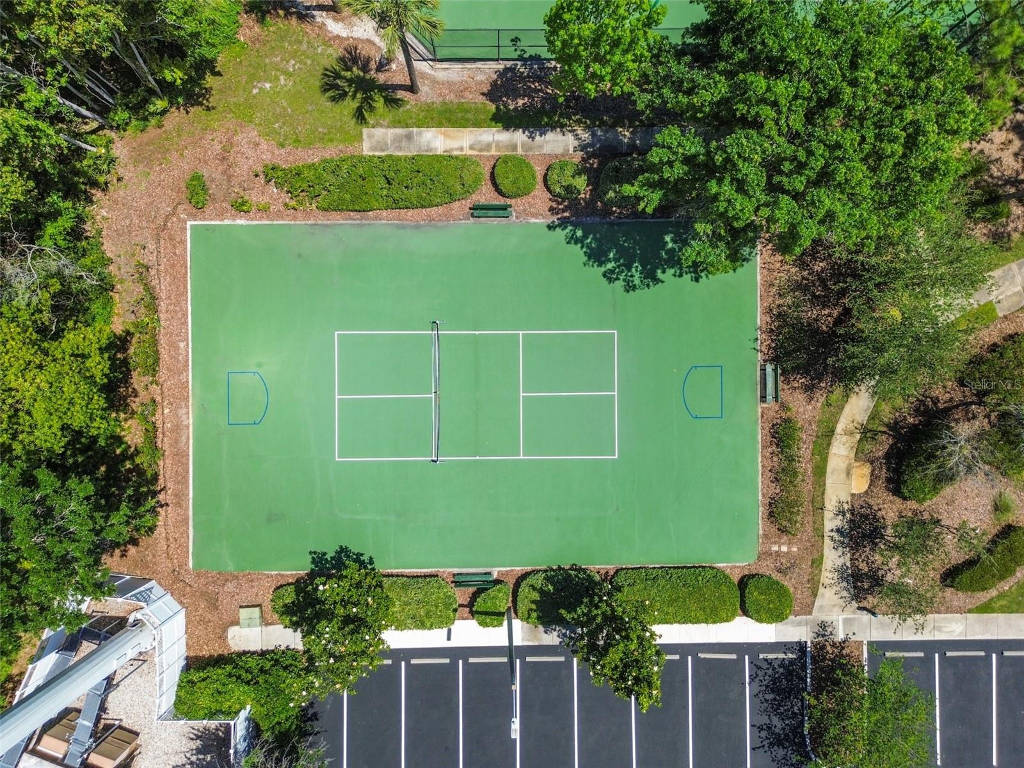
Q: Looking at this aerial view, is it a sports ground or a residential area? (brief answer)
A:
sports ground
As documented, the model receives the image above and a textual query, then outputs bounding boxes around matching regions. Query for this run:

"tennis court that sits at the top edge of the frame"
[386,0,1019,68]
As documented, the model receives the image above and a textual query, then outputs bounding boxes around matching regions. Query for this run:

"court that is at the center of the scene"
[187,220,760,572]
